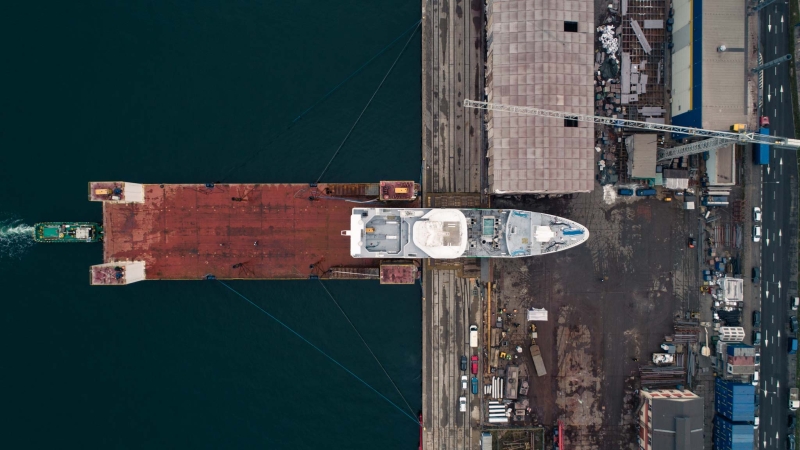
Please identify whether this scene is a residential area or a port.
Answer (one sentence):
This image shows a port.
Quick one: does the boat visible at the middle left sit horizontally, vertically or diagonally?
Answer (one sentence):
From this overhead view, the boat visible at the middle left appears to run horizontally.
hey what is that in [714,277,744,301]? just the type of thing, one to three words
building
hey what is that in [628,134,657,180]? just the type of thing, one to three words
shed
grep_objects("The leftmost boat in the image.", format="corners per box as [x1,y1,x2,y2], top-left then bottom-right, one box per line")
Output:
[33,221,104,244]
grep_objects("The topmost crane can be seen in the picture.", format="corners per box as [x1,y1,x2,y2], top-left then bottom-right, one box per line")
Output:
[462,97,800,166]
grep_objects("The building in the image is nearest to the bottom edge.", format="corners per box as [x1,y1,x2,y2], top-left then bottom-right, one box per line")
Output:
[640,391,702,450]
